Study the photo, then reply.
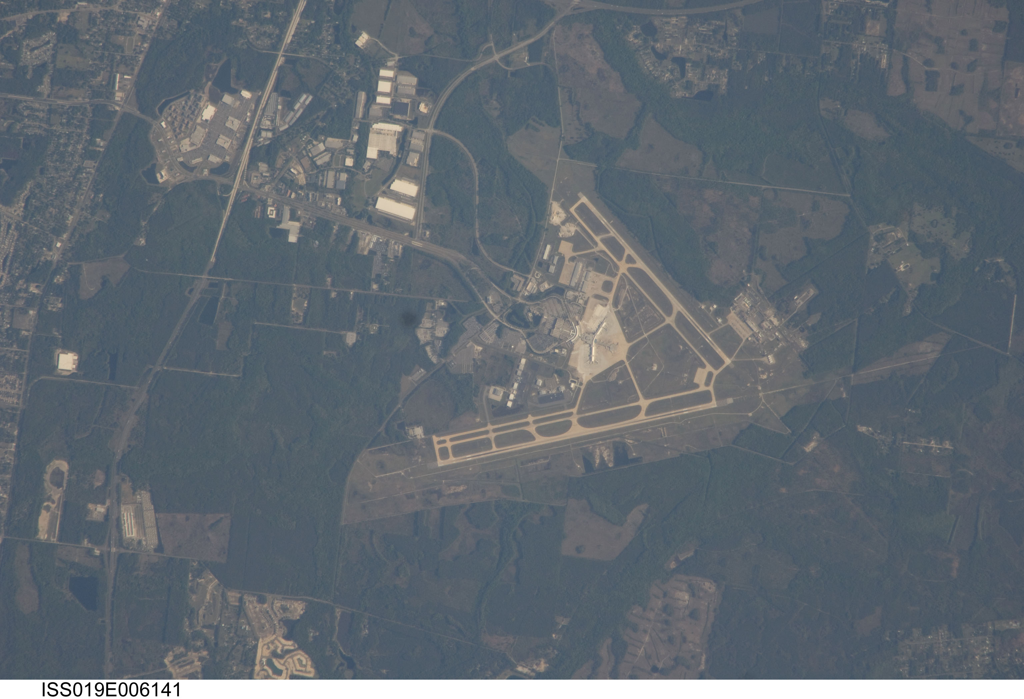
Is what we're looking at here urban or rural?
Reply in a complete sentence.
It looks rural.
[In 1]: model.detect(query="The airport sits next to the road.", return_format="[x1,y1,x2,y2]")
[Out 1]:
[427,177,744,469]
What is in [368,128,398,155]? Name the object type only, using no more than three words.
building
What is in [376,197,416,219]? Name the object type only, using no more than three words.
building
